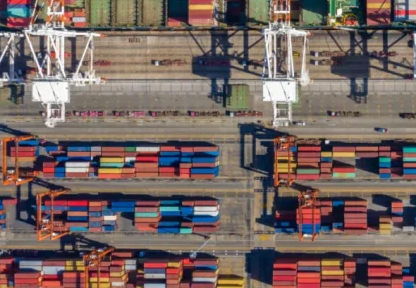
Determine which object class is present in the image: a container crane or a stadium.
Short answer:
container crane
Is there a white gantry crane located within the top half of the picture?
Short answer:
Yes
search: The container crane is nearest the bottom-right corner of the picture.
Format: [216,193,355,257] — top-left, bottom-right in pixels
[295,187,322,239]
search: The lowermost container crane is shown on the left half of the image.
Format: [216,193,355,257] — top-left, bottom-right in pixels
[82,242,116,288]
